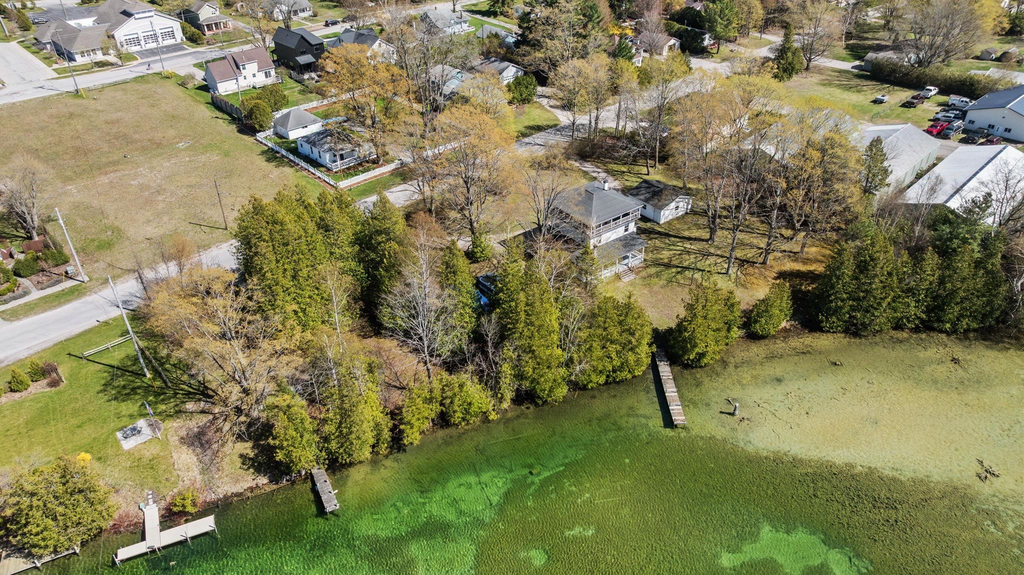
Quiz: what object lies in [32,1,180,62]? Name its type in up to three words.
building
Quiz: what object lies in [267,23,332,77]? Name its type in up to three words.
house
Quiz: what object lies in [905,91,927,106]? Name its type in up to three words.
vehicle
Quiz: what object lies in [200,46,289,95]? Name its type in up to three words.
house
